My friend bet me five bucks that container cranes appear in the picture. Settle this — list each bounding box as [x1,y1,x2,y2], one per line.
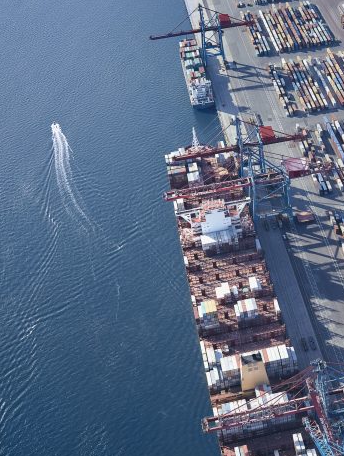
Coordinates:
[201,356,344,443]
[162,145,340,233]
[294,385,344,456]
[148,0,252,66]
[173,114,302,191]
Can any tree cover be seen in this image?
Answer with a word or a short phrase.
No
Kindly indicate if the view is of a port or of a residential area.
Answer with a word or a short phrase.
port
